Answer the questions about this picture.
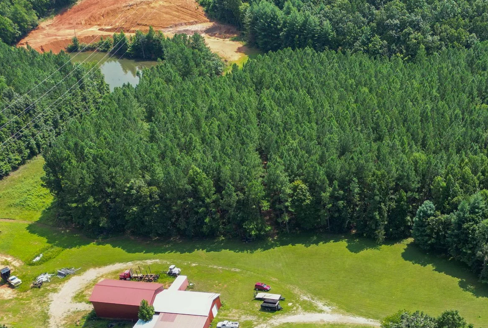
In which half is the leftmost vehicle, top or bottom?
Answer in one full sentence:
It is in the bottom half that the leftmost vehicle appears.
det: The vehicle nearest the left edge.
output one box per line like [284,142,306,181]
[0,268,21,288]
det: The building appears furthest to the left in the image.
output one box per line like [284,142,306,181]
[90,279,165,319]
